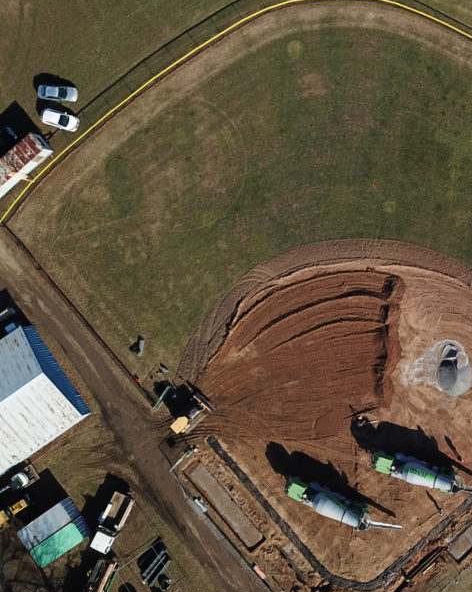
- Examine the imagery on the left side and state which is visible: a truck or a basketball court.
truck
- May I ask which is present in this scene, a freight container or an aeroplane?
freight container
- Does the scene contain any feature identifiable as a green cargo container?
Yes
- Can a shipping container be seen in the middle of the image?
No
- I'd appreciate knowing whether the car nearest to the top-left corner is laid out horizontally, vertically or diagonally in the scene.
horizontally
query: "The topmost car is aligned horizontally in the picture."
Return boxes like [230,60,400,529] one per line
[37,82,79,102]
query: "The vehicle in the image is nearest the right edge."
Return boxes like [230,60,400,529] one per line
[369,444,472,491]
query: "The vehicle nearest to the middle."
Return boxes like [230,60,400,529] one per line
[168,391,215,439]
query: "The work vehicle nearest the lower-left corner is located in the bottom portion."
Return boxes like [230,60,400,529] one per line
[0,491,36,525]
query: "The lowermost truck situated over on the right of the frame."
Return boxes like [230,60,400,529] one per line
[279,470,403,533]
